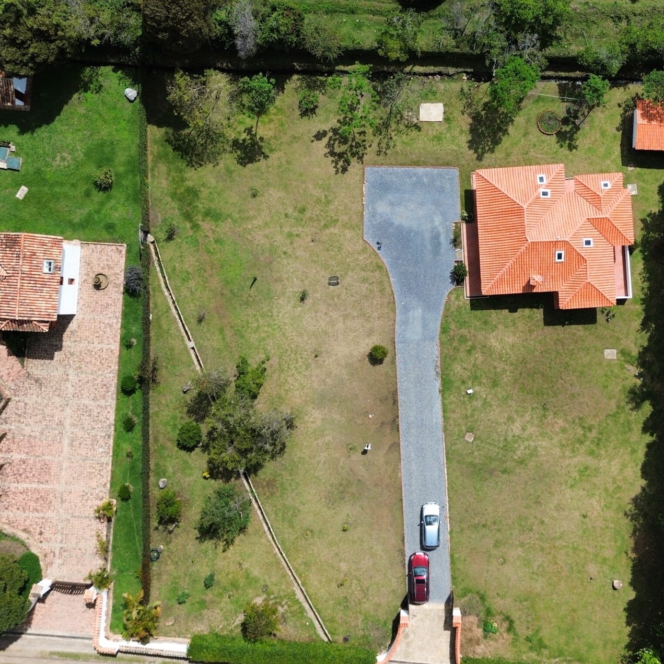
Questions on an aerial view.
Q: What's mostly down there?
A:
grass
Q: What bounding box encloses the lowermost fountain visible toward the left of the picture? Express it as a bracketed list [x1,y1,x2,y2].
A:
[90,273,109,288]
